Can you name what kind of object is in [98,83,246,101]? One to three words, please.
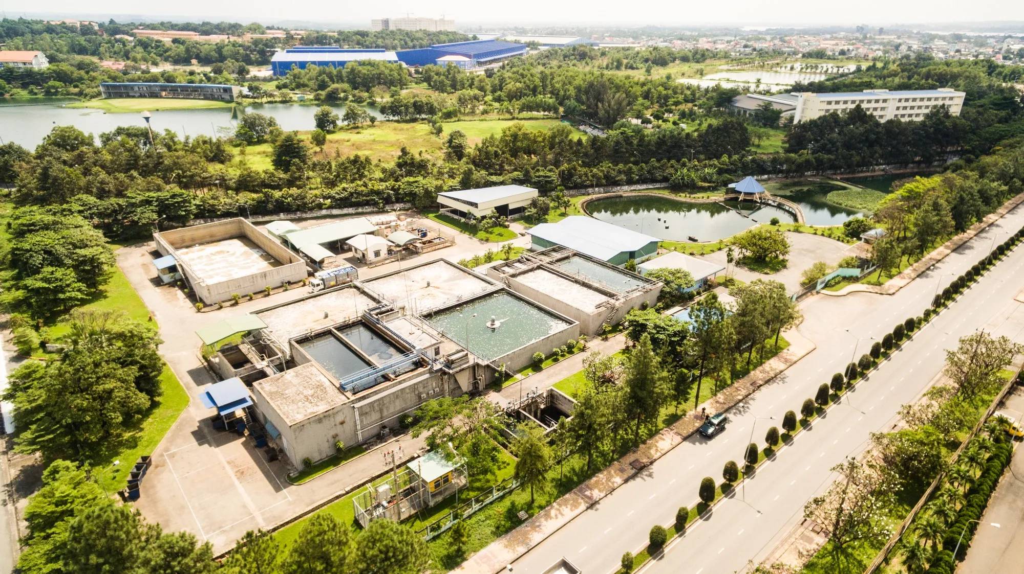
building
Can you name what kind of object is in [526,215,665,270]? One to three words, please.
shed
